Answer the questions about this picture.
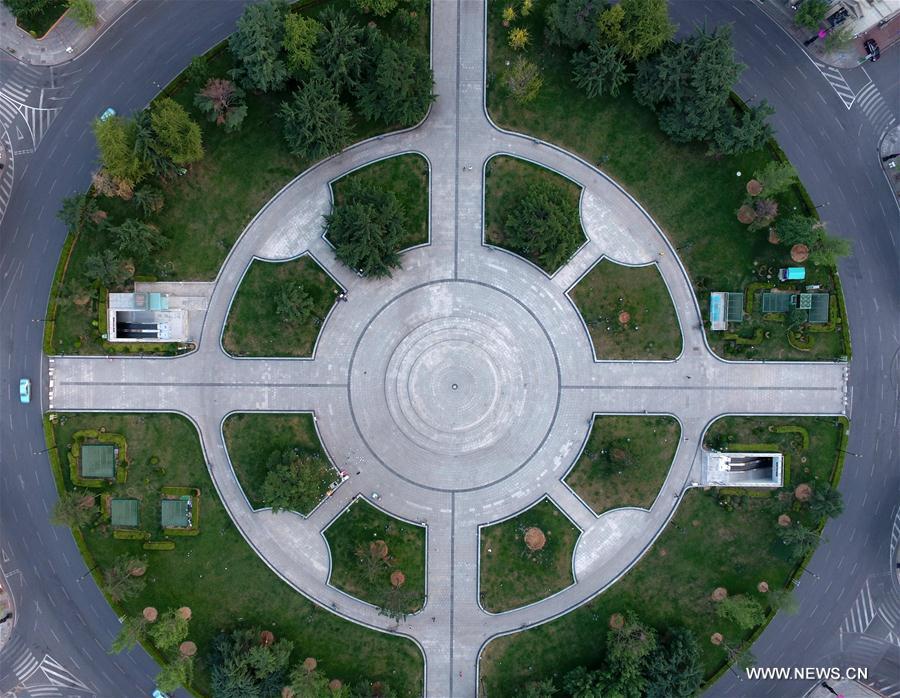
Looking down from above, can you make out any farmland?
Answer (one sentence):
No, the scene doesn't show any farmland.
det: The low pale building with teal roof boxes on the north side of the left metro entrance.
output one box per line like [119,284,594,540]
[109,293,171,309]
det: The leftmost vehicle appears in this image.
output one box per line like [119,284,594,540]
[17,379,30,404]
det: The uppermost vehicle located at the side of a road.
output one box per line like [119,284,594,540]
[865,35,880,60]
